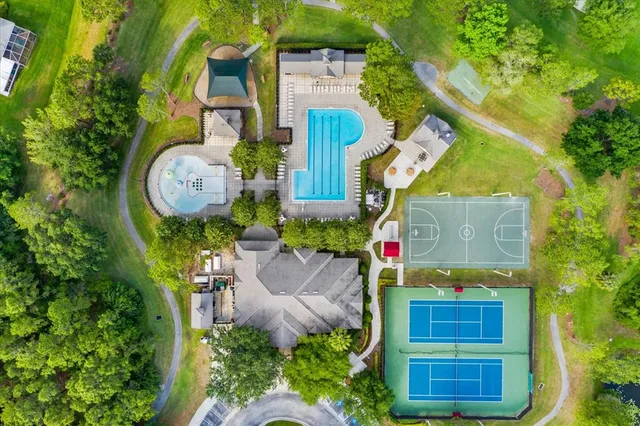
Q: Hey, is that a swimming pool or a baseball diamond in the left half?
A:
swimming pool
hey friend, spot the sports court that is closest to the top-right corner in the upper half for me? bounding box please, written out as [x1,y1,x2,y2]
[447,59,491,105]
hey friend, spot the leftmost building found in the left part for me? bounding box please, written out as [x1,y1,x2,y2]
[0,19,42,97]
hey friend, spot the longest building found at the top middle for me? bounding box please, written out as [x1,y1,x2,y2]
[279,46,366,82]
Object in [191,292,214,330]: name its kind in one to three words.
shed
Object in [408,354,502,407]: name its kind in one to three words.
tennis court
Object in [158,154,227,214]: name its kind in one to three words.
swimming pool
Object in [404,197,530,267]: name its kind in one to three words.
basketball court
